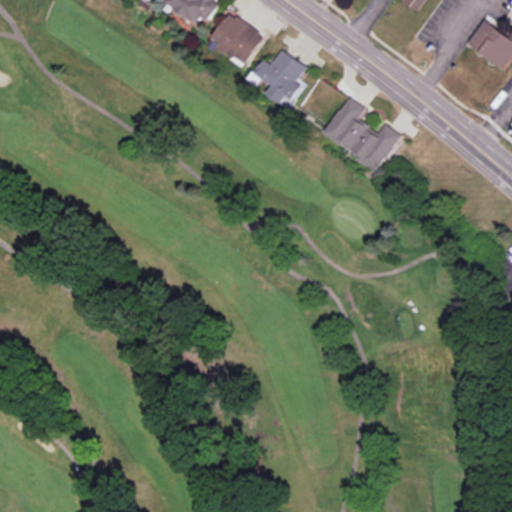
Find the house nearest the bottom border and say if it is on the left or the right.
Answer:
right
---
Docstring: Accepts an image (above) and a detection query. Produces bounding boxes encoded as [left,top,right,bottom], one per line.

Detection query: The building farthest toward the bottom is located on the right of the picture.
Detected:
[324,97,401,170]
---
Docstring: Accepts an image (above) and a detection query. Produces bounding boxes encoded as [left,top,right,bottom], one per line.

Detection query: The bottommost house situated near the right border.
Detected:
[468,17,512,73]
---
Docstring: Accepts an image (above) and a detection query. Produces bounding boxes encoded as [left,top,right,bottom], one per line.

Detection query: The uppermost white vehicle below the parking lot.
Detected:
[491,89,509,110]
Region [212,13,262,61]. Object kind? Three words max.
house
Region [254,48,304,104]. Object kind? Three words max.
house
